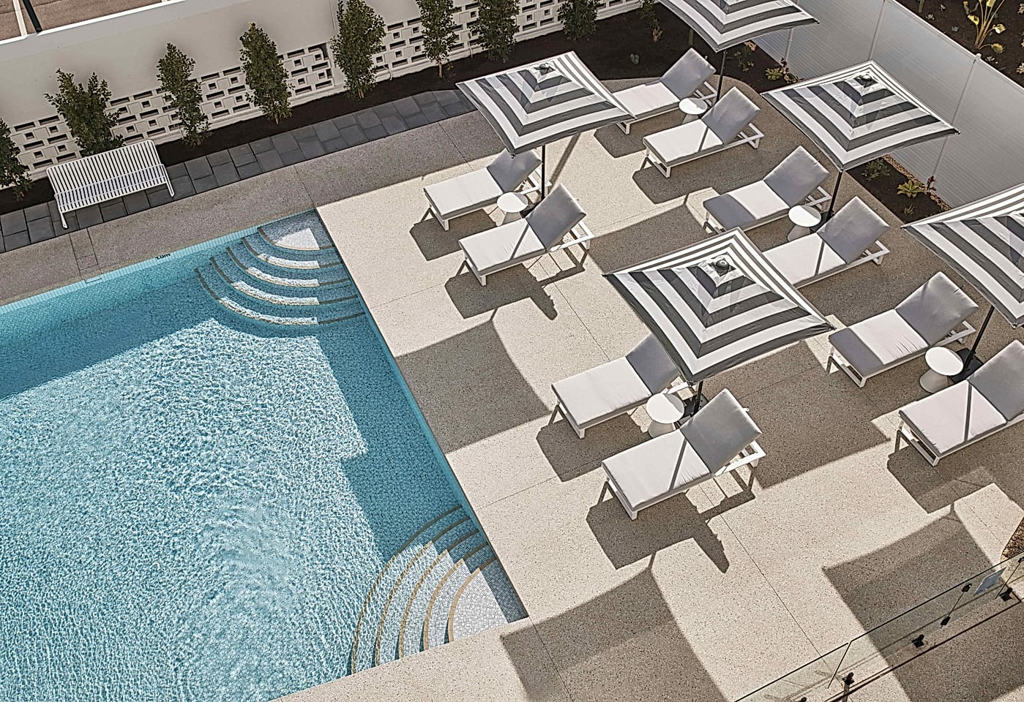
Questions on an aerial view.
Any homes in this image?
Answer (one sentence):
No, the scene contains no home.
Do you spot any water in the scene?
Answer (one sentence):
Yes, some water is visible.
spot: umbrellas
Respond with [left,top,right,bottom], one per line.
[602,225,837,427]
[655,0,821,118]
[759,60,961,235]
[457,49,637,214]
[900,179,1024,384]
